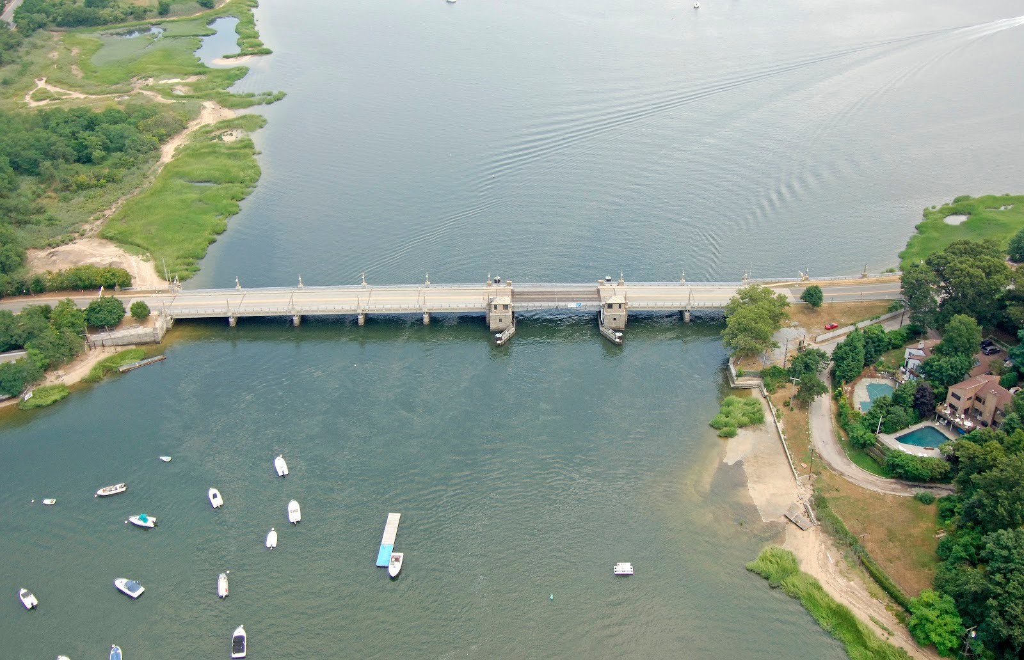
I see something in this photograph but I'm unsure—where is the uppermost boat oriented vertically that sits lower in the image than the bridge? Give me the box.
[275,454,288,479]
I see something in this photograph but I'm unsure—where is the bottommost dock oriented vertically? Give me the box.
[378,513,401,568]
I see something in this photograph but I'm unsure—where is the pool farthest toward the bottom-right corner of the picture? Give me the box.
[898,428,947,448]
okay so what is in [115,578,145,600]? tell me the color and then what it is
white boat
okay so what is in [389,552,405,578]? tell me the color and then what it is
white boat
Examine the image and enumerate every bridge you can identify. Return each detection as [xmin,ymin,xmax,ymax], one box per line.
[147,276,815,328]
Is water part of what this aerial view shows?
Yes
